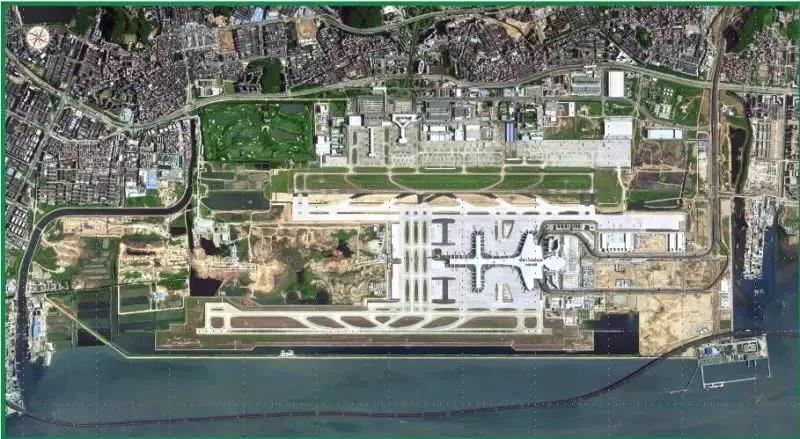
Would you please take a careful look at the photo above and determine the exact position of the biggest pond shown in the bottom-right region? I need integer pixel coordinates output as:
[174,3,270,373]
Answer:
[594,312,638,354]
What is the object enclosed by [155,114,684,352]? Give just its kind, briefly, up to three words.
airport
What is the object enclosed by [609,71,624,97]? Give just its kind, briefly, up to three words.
building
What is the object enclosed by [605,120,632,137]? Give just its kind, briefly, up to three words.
building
